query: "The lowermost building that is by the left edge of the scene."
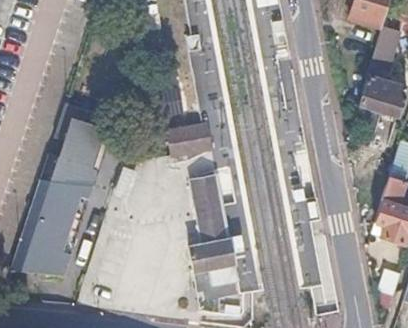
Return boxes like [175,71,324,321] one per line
[7,180,96,278]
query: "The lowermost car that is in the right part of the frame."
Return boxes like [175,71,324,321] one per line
[352,29,372,42]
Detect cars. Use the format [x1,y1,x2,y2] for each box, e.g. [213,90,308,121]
[4,28,28,42]
[0,79,13,91]
[13,5,34,18]
[0,106,6,116]
[0,66,18,80]
[2,41,21,54]
[75,0,95,5]
[15,0,38,7]
[93,286,114,300]
[87,214,102,238]
[352,29,372,42]
[9,17,30,30]
[287,0,298,7]
[0,92,8,103]
[0,54,20,68]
